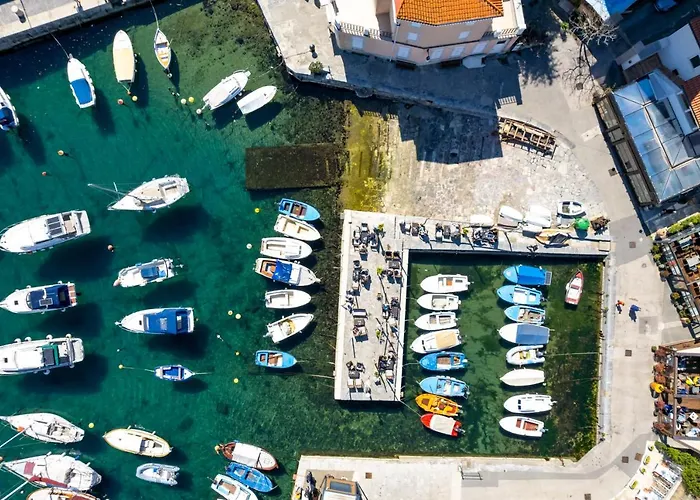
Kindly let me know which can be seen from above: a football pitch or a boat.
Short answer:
boat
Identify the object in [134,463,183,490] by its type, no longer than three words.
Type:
boat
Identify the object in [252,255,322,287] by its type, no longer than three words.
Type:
boat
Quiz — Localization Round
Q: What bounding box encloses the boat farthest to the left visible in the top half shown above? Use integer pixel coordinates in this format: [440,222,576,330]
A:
[0,85,24,135]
